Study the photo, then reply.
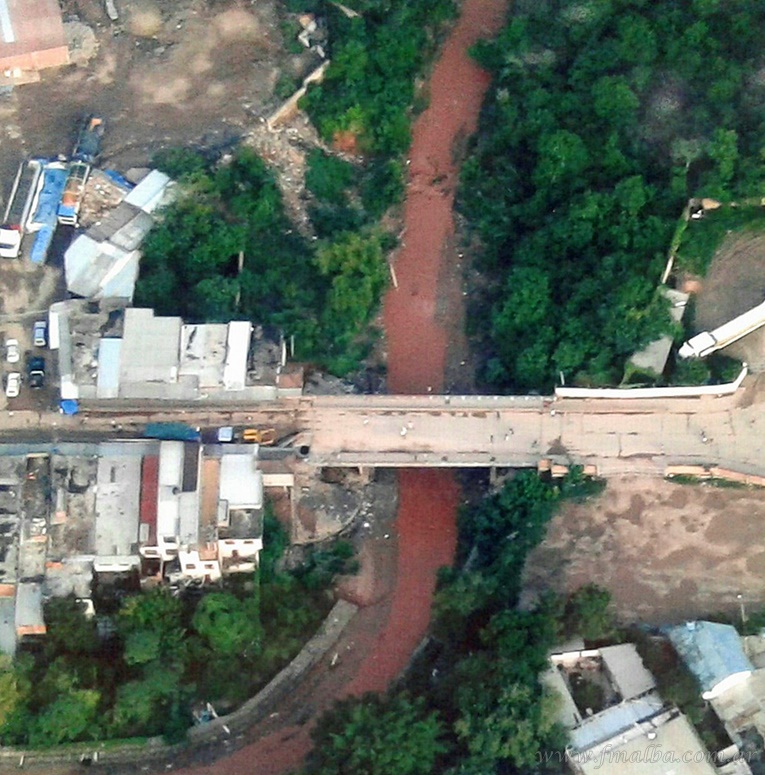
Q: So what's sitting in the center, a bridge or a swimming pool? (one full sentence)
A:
The feature located in the center is a bridge.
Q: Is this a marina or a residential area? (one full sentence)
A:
The area seen from above is a residential area.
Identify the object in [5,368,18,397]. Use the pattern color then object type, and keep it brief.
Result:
white vehicle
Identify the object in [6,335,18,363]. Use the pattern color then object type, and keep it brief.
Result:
white vehicle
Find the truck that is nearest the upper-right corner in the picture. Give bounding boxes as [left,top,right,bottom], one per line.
[679,307,765,372]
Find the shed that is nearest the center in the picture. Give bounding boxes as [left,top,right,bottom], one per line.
[278,363,304,397]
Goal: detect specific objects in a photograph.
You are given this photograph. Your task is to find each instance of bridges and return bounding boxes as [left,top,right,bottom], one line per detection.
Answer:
[300,394,560,480]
